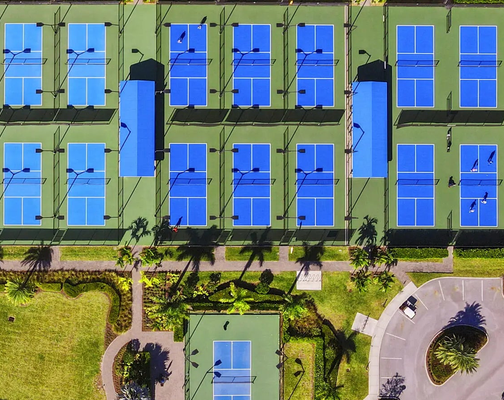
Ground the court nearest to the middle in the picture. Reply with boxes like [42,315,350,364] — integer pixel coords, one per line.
[233,144,270,226]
